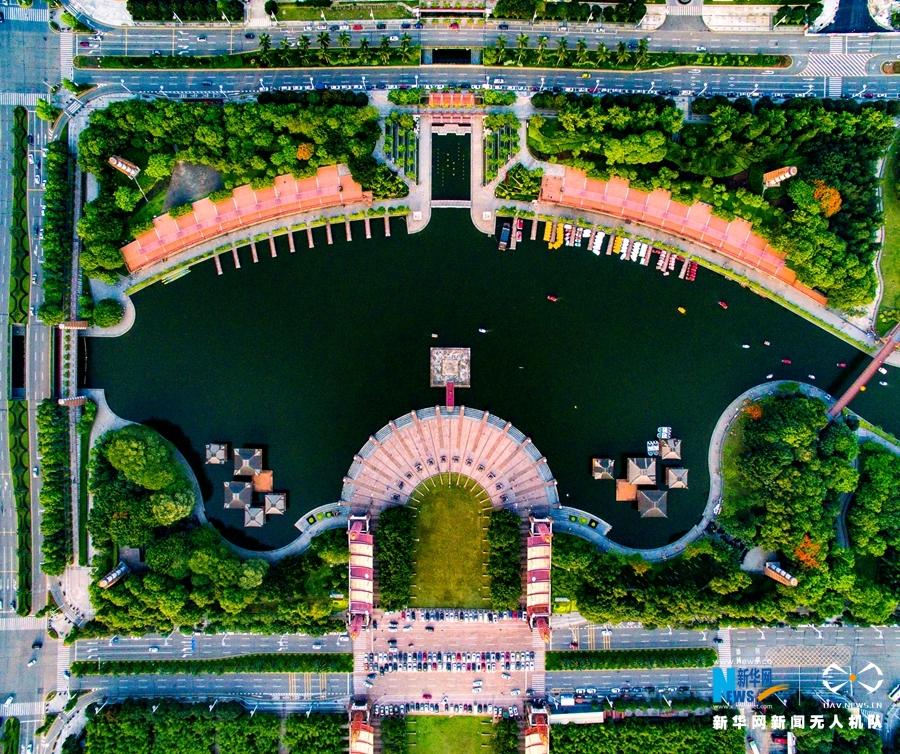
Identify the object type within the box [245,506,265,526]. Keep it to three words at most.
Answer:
building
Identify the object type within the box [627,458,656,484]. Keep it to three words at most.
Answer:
building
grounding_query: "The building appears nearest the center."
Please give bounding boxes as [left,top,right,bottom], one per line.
[592,458,614,479]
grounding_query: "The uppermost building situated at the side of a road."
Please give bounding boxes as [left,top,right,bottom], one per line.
[430,93,475,108]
